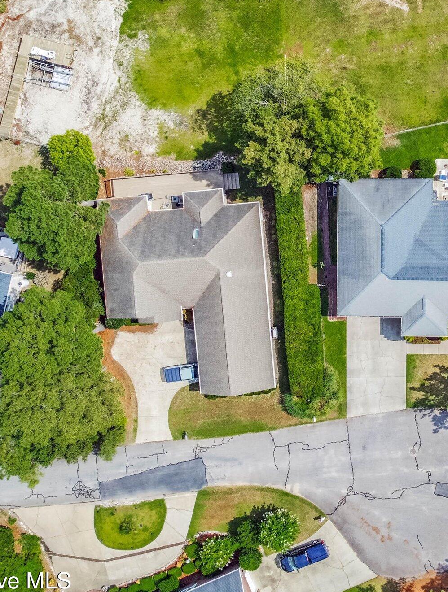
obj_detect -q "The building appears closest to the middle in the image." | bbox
[97,188,278,396]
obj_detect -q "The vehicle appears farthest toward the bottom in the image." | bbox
[273,542,331,579]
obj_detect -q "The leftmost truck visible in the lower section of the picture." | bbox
[158,363,199,388]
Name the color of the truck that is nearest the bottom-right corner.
blue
